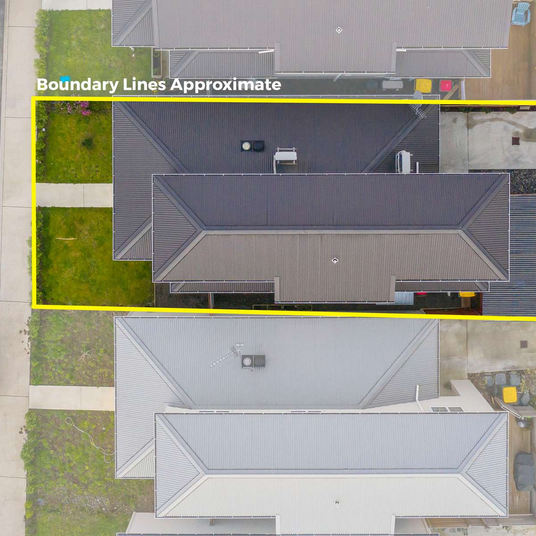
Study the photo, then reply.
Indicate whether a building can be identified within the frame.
Yes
